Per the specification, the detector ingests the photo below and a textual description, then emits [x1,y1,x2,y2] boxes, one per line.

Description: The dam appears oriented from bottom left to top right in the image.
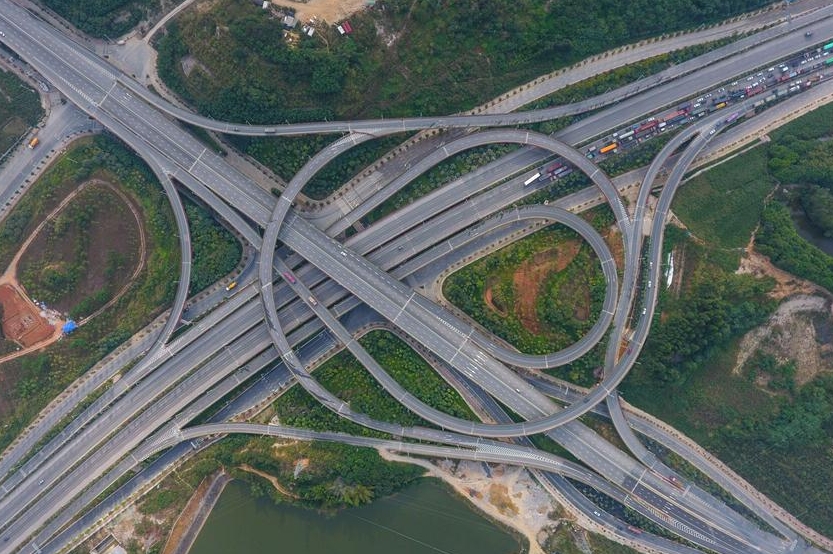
[158,465,231,554]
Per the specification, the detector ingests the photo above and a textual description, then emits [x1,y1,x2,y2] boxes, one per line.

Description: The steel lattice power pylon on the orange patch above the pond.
[292,456,308,478]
